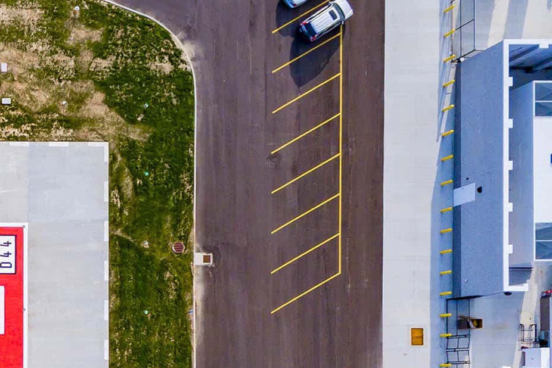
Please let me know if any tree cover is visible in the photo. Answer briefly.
No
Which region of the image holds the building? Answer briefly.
right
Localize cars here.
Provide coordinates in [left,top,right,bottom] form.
[294,0,356,43]
[283,0,307,8]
